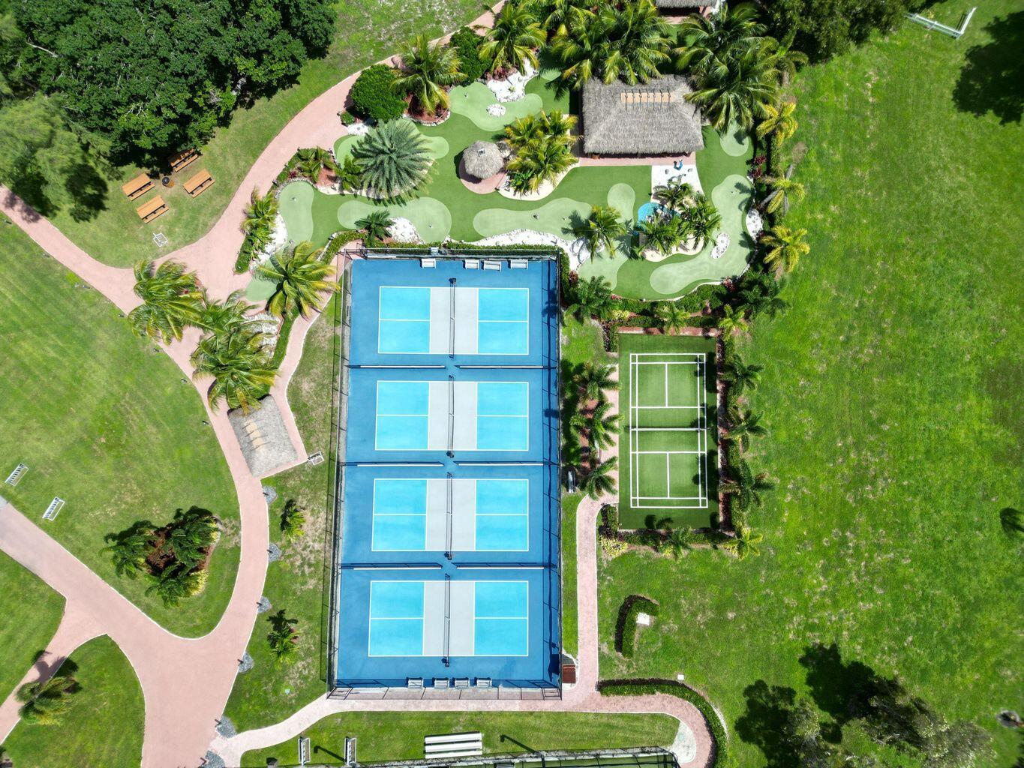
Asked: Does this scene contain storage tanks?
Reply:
No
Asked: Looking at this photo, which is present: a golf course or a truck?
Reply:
golf course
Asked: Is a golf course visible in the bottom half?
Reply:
No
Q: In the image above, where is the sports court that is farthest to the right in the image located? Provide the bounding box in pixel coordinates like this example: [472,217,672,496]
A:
[619,333,722,529]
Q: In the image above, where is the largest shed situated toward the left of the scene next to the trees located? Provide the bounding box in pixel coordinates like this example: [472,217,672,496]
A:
[228,395,299,479]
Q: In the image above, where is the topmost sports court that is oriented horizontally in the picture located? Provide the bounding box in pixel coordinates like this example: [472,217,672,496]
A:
[378,286,529,355]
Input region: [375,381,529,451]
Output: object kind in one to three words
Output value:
sports court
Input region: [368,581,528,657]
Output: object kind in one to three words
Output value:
sports court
